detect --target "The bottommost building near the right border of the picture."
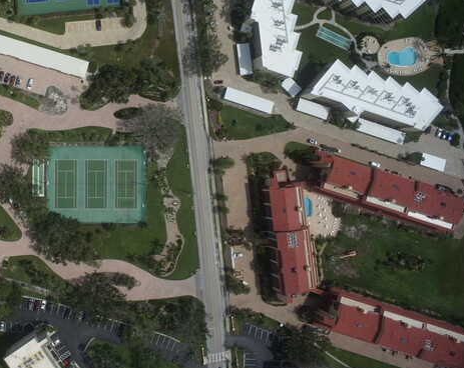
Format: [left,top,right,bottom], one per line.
[307,286,464,368]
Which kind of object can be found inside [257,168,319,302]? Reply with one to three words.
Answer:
building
